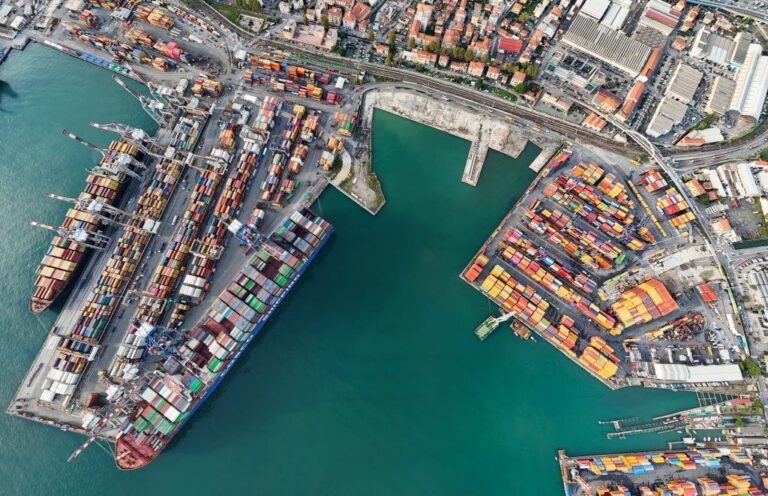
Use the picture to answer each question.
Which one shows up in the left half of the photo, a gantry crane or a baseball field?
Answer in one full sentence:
It is a gantry crane that can be seen in the left half of the photo.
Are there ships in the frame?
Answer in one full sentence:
Yes, you can see a ship in this photo.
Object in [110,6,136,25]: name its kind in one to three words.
house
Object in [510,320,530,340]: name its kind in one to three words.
ship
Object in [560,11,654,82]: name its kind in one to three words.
building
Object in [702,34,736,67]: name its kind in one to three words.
building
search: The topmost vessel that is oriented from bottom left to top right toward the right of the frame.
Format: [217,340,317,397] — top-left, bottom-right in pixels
[475,310,518,340]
